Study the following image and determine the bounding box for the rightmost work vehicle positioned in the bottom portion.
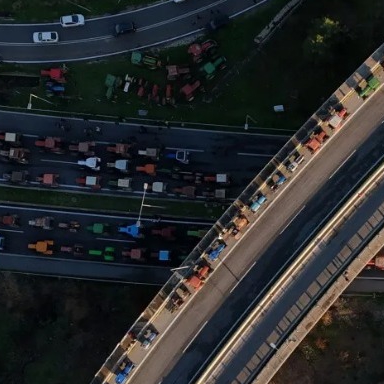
[366,256,384,271]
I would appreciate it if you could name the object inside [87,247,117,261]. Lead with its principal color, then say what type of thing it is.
green work vehicle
